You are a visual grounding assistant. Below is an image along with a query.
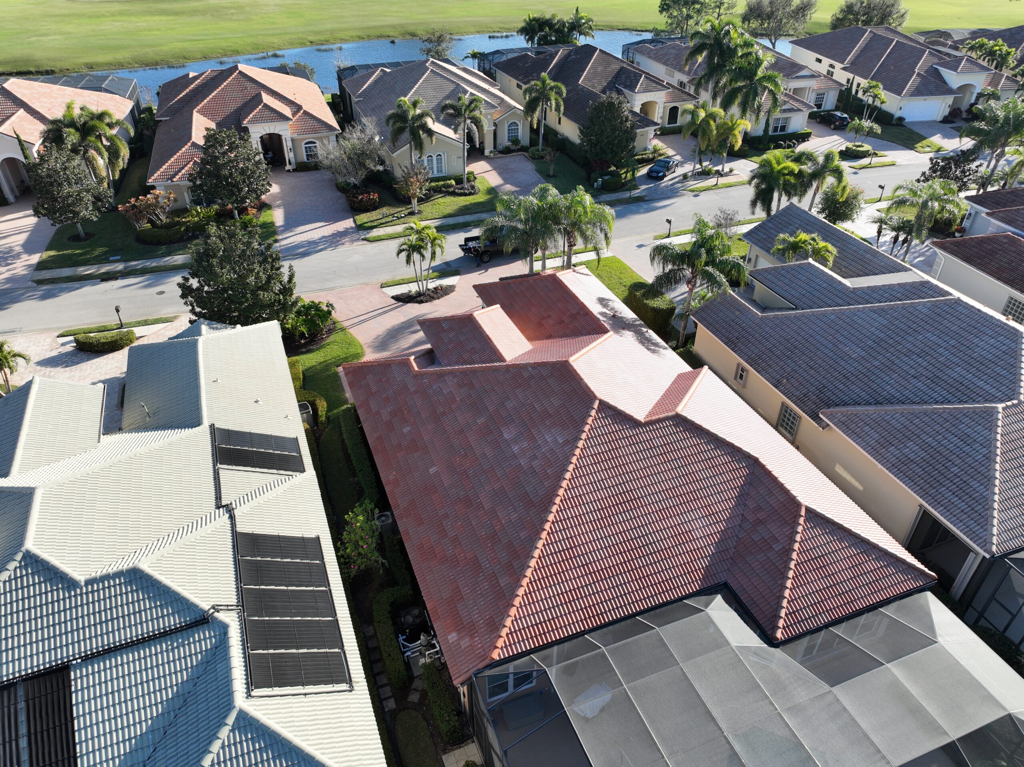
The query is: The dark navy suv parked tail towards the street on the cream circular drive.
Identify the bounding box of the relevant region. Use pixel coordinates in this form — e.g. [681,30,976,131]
[816,110,850,128]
